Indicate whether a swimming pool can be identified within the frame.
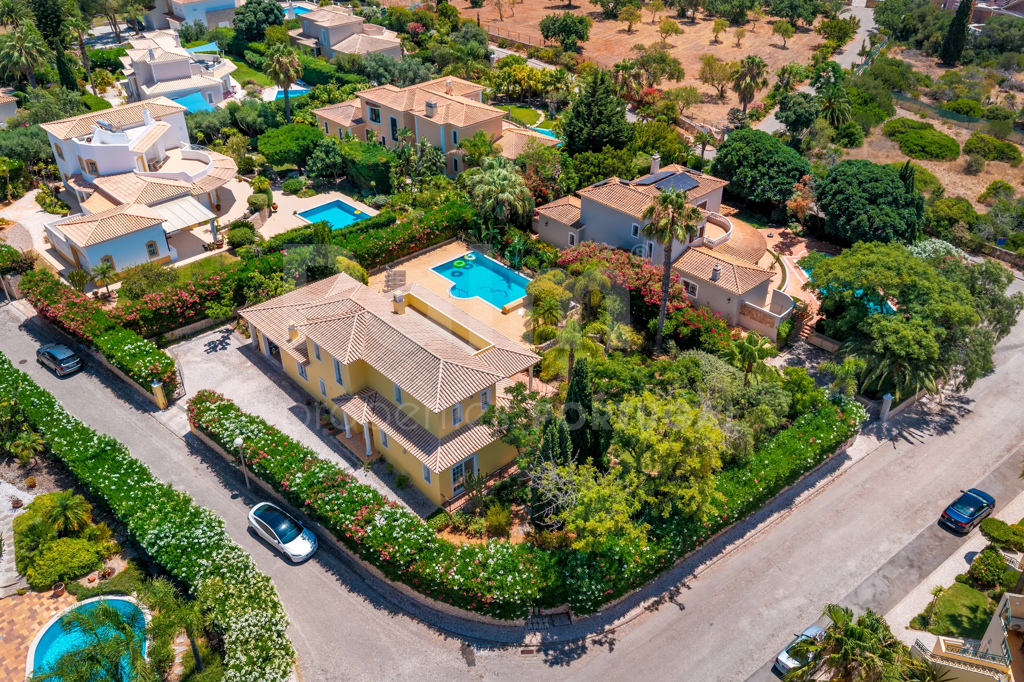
Yes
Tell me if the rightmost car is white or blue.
blue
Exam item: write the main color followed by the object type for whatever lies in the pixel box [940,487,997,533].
blue car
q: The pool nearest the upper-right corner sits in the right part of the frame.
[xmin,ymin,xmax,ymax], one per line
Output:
[792,250,892,318]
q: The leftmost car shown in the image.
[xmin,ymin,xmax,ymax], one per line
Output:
[37,338,86,376]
